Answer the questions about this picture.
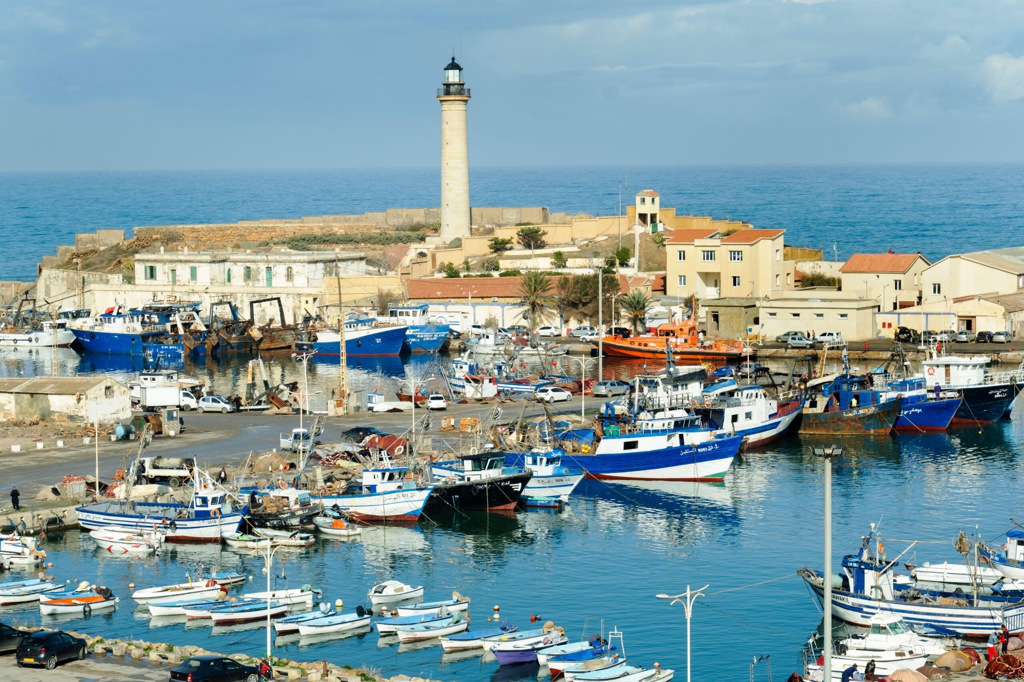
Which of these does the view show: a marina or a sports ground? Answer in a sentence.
The area seen from above is a marina.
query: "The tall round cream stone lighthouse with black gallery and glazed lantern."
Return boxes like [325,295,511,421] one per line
[437,57,472,235]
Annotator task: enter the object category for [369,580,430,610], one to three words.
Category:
boat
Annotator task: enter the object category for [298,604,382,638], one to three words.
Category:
boat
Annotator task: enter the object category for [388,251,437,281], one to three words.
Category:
shed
